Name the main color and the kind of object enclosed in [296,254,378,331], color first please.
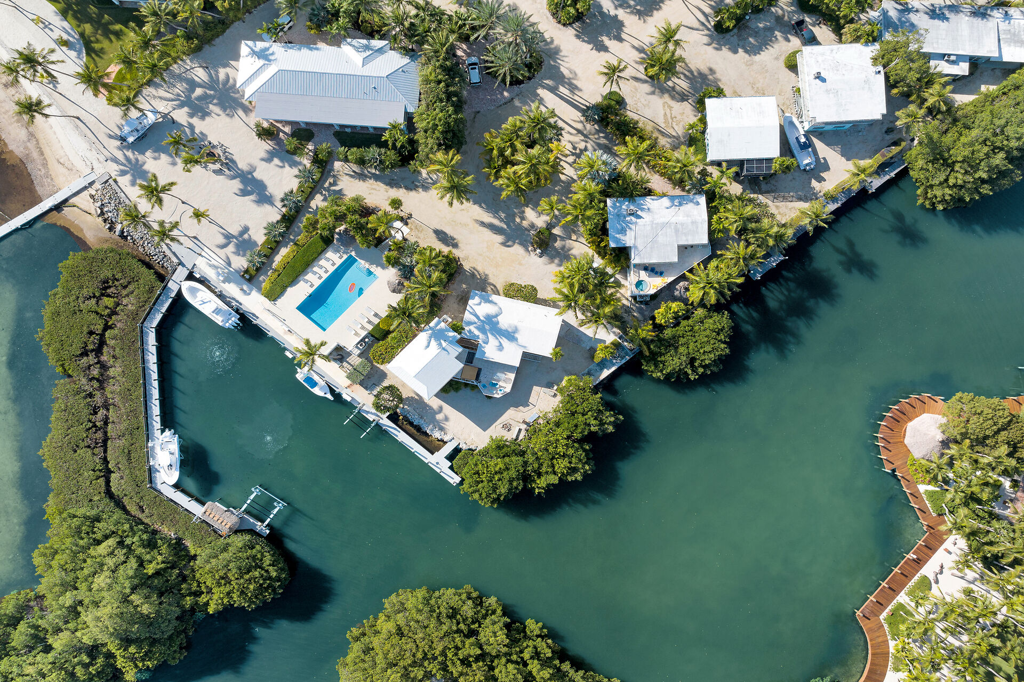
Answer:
blue swimming pool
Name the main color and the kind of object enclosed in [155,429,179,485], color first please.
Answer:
white boat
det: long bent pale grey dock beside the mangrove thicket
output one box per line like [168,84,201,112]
[140,263,271,536]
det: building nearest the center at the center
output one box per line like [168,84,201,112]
[456,290,562,398]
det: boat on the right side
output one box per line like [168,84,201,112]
[786,115,816,175]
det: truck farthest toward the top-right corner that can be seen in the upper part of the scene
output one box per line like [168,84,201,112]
[794,15,820,45]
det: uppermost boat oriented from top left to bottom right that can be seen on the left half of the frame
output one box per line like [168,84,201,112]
[182,284,245,332]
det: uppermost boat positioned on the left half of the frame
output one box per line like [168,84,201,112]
[120,113,155,145]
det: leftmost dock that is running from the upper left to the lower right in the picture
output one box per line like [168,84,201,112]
[189,261,461,485]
